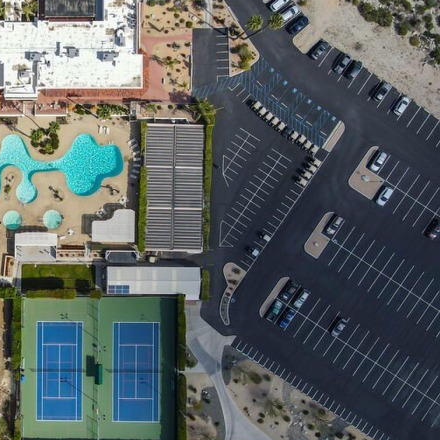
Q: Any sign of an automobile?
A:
Yes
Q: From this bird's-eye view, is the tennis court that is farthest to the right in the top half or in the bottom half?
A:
bottom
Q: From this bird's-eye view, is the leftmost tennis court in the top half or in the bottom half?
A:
bottom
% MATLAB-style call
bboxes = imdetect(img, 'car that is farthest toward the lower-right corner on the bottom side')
[332,318,349,337]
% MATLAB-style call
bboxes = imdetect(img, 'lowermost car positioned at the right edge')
[428,220,440,238]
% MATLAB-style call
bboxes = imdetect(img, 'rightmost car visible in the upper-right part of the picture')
[396,96,412,113]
